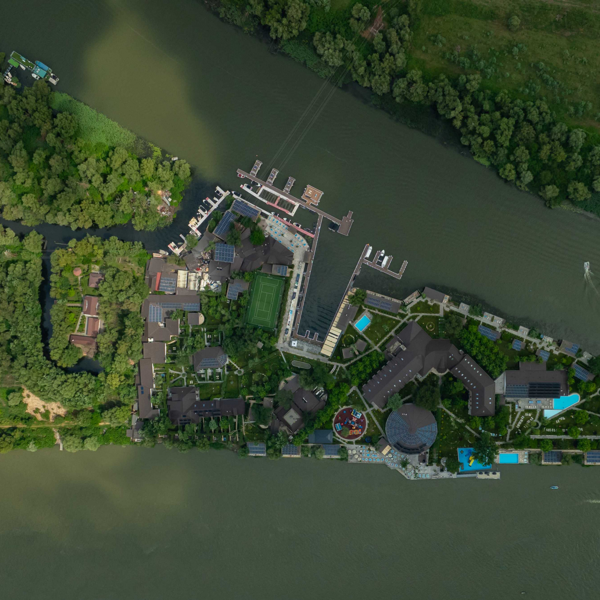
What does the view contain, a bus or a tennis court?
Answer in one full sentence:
Visible in the photo is a tennis court.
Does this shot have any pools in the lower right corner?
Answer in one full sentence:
Yes, a pool appears in the lower right corner.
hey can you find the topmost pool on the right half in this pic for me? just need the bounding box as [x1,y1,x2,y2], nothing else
[354,315,372,332]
